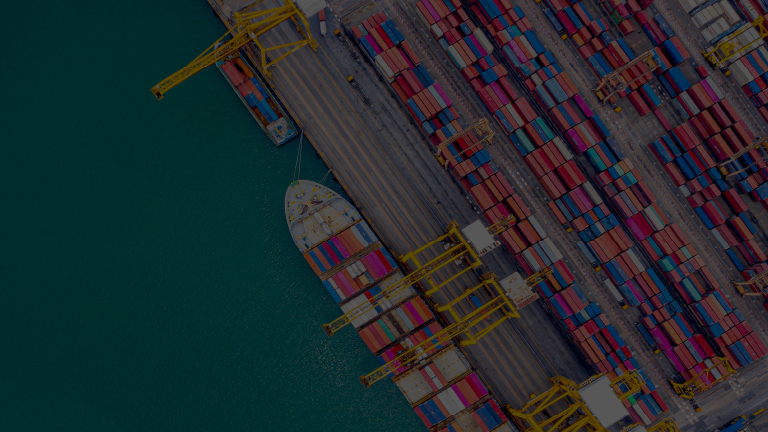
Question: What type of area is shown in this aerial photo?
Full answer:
What you see here is a port.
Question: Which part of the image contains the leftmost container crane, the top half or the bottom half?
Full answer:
The leftmost container crane sits in the top half of the picture.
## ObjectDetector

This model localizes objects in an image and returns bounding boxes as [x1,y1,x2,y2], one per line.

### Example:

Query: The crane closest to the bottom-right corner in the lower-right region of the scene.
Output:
[662,346,742,400]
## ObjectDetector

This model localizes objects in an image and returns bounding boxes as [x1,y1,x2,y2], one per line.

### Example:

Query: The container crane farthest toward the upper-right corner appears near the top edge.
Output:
[698,17,768,72]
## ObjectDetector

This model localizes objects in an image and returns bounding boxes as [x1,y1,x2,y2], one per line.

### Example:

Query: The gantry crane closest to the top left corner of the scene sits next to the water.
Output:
[146,0,334,97]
